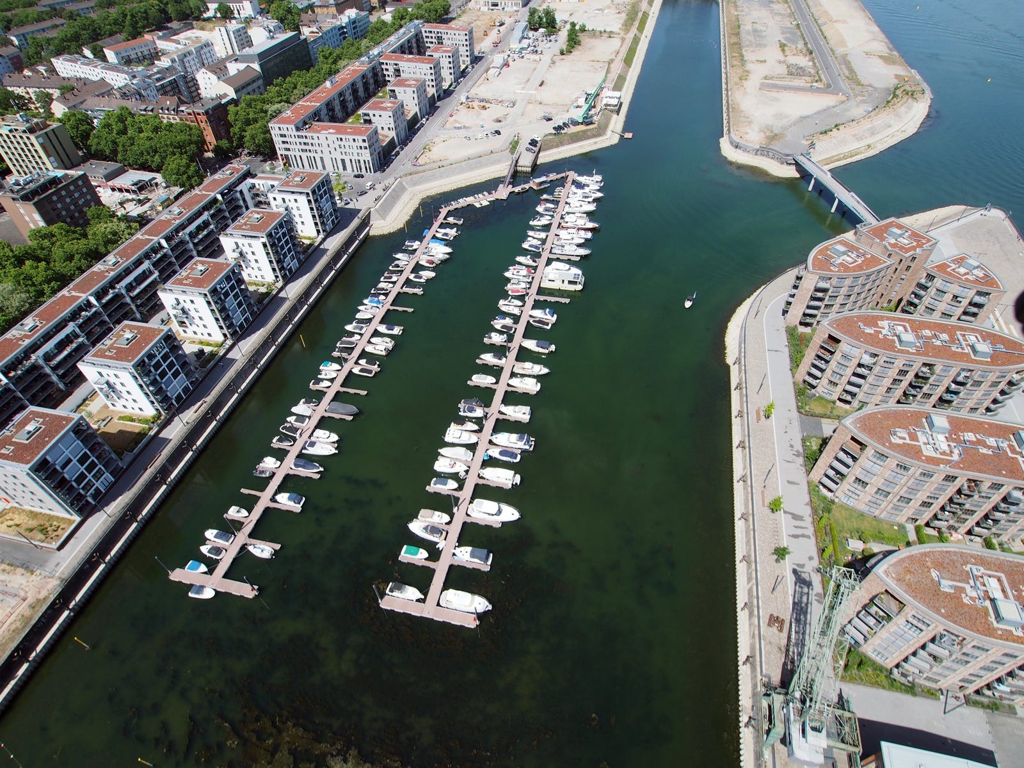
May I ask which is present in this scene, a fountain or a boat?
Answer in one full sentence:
It is a boat that can be seen here.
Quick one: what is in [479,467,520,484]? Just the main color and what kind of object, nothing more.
white boat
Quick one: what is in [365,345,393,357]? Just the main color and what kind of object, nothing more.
white boat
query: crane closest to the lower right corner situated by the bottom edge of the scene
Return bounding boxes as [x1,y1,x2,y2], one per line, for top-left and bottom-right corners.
[767,561,868,768]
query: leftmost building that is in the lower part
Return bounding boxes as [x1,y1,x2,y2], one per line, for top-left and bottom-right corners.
[0,403,126,521]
